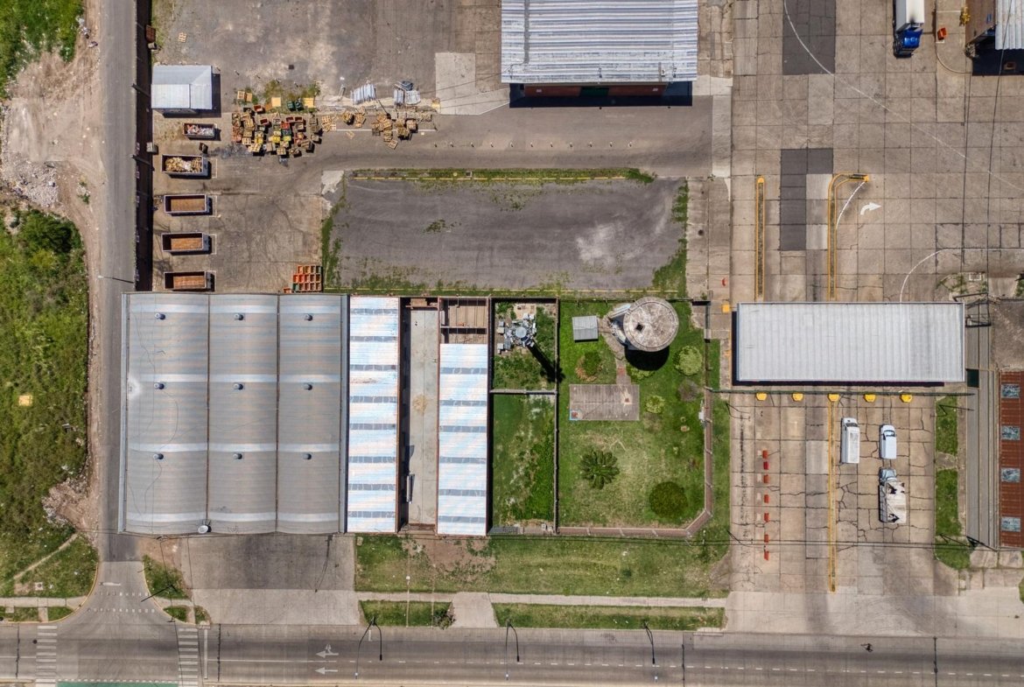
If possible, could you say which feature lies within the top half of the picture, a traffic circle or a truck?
truck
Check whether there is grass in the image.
Yes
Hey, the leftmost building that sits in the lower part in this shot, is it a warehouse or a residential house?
warehouse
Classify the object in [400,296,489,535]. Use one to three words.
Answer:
shed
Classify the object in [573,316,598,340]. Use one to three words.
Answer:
building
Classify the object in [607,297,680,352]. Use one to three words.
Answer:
water tower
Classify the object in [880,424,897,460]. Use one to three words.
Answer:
vehicle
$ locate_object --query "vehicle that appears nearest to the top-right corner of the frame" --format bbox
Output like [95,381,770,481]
[892,0,924,58]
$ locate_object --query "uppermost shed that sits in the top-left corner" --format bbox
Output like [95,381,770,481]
[152,65,212,109]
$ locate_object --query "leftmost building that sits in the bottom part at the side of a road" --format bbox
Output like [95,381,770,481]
[120,293,349,536]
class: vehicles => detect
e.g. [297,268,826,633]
[842,417,861,464]
[892,0,924,58]
[880,424,897,460]
[881,467,905,527]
